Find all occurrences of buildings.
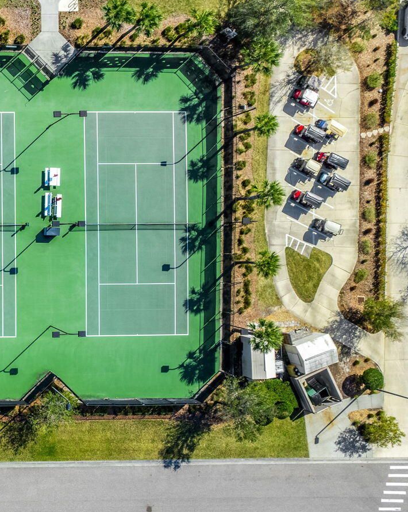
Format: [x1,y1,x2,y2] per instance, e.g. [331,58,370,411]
[284,331,339,375]
[236,332,274,379]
